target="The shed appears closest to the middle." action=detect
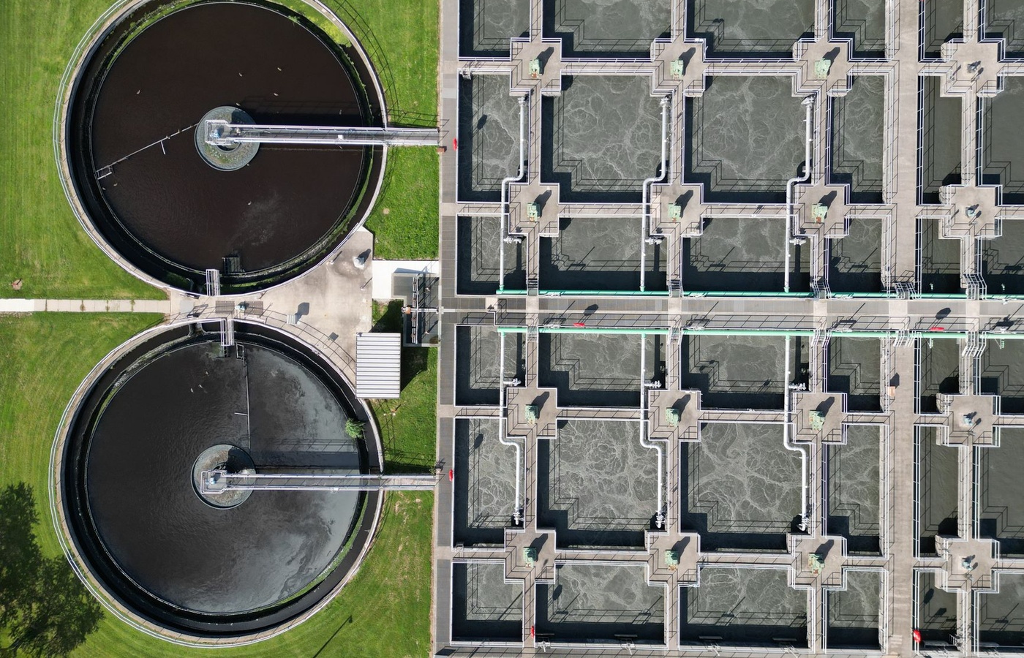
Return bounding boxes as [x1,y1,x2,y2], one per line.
[356,333,404,399]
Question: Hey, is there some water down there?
Yes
